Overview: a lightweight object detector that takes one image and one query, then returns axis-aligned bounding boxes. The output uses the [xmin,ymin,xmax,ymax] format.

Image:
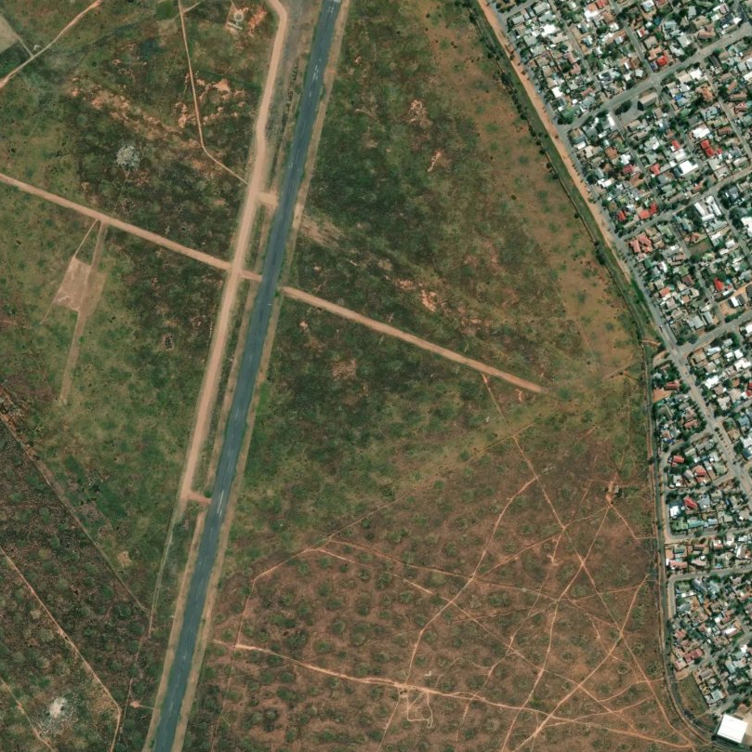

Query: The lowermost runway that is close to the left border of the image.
[10,177,231,272]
